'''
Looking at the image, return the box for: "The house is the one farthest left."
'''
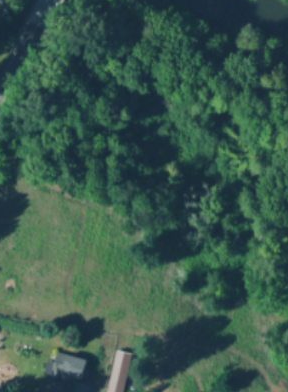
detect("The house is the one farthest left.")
[49,353,88,378]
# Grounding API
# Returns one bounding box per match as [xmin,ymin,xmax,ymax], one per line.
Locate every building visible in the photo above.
[108,350,132,392]
[49,353,88,378]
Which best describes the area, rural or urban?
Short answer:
rural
